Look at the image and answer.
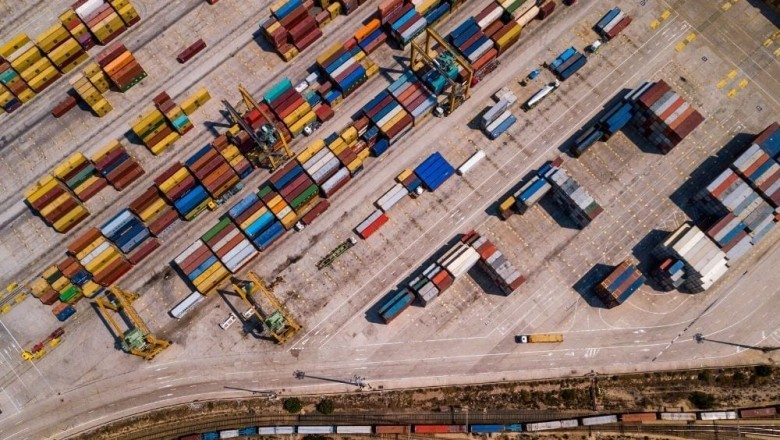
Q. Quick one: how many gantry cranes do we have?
4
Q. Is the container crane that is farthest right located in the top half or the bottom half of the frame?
top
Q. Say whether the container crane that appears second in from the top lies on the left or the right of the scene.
left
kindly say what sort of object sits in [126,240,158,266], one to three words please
shipping container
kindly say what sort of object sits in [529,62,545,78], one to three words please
vehicle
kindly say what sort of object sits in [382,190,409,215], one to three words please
shipping container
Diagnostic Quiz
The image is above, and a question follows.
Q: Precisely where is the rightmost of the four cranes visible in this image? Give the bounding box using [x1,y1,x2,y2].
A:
[408,24,480,113]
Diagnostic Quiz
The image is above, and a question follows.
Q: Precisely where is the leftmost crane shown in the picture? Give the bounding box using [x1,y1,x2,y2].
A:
[88,280,173,362]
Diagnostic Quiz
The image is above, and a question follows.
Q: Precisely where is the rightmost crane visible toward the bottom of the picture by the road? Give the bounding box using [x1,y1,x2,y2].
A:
[229,265,303,346]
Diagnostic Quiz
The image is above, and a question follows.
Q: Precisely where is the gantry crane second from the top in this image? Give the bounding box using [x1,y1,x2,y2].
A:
[220,83,296,172]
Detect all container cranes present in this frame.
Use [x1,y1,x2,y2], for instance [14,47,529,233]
[88,280,173,362]
[408,24,480,113]
[220,83,296,172]
[229,265,303,346]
